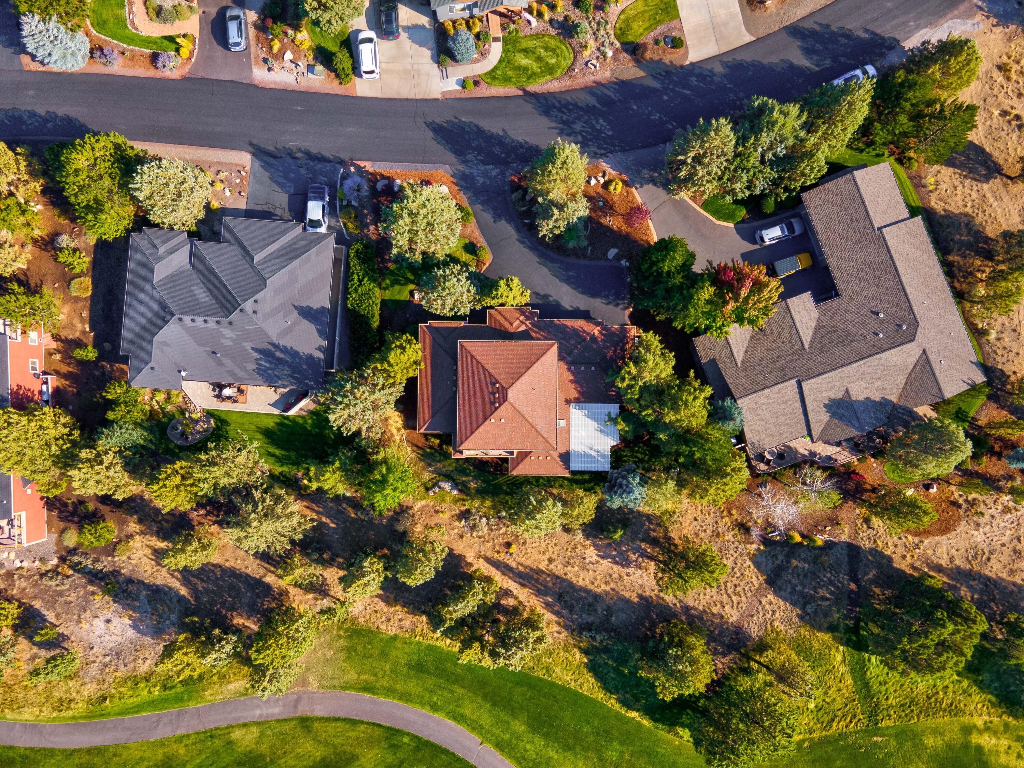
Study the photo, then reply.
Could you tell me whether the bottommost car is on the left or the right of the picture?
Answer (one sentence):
The bottommost car is on the right side of the image.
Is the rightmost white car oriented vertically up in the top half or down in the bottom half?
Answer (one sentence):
The top half of the photo is where the rightmost white car oriented vertically is.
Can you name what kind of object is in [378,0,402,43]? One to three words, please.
car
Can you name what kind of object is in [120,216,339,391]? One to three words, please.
house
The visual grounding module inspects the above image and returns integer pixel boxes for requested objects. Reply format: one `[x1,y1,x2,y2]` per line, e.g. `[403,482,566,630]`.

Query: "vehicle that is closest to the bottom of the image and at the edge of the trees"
[767,252,812,280]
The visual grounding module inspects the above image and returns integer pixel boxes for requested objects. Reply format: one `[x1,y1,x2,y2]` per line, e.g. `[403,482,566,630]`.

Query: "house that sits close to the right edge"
[692,160,987,457]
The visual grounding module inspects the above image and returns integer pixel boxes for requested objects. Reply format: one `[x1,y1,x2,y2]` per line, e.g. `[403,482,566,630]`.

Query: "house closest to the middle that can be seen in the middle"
[417,306,637,476]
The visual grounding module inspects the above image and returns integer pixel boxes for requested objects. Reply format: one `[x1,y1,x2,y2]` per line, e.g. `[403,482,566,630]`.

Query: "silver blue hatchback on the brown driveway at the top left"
[224,6,250,55]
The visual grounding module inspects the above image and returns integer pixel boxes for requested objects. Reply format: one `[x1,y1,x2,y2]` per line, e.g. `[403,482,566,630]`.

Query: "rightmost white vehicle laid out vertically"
[357,31,382,83]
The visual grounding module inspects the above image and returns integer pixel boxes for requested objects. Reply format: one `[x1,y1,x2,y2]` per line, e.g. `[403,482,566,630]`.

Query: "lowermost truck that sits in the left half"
[306,183,331,232]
